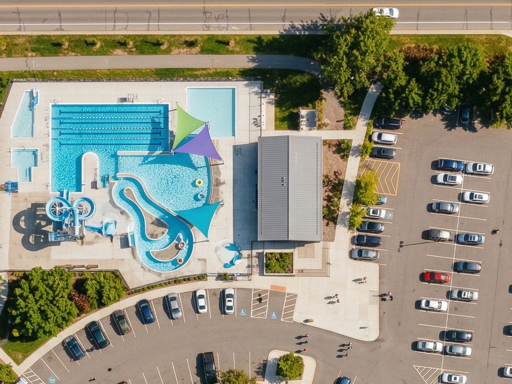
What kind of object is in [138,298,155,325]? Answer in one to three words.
car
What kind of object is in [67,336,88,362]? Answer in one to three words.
car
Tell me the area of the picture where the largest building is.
center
